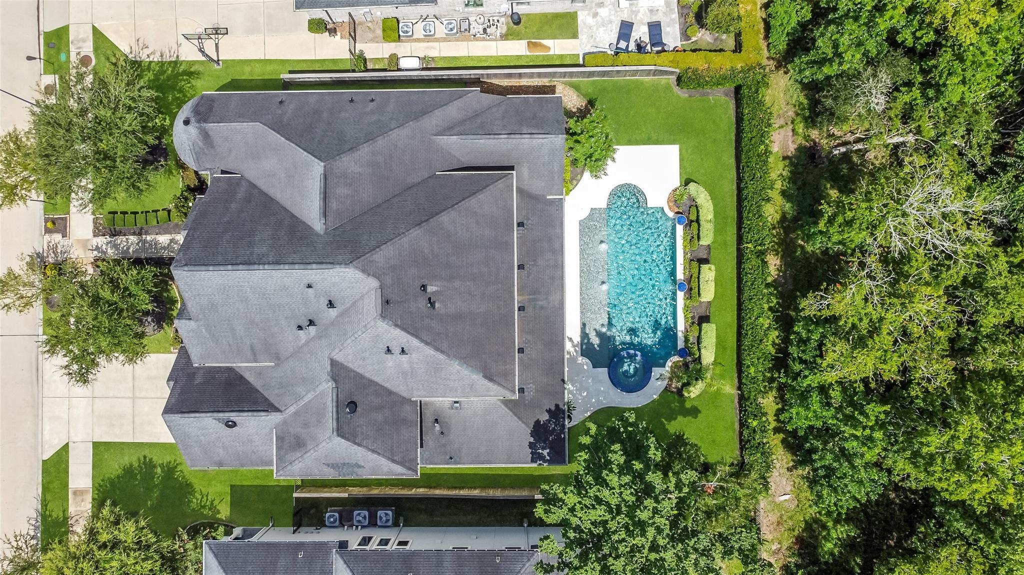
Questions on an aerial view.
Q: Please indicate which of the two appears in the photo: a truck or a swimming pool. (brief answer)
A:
swimming pool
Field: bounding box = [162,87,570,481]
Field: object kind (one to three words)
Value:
house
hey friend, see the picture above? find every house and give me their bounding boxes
[293,0,581,24]
[202,517,570,575]
[162,87,570,481]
